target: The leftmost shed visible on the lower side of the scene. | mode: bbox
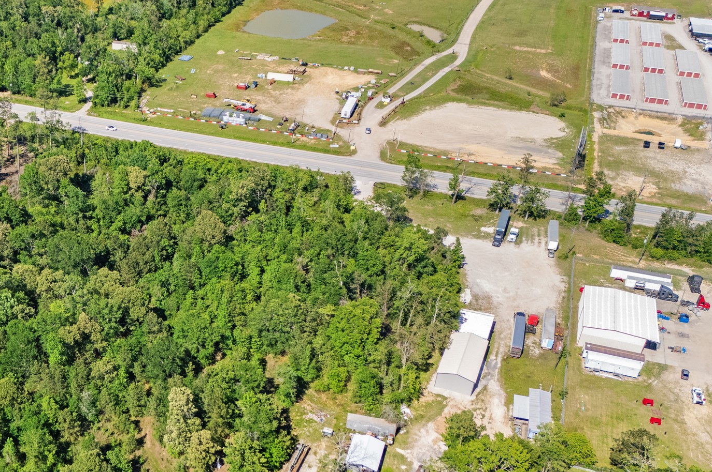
[346,434,389,472]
